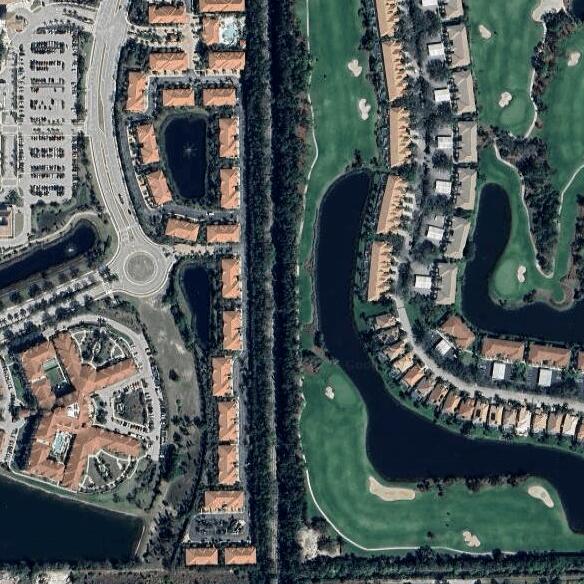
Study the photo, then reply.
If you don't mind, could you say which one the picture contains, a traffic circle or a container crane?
traffic circle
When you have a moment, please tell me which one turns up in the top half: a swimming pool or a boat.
swimming pool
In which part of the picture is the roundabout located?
left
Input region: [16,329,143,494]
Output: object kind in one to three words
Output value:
house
